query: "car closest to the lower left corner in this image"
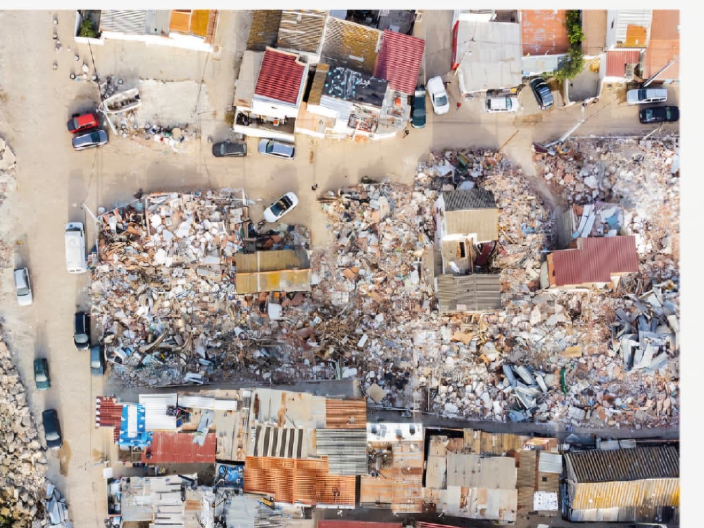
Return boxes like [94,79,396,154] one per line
[42,408,63,448]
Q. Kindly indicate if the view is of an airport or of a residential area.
residential area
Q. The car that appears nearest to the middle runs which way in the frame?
at an angle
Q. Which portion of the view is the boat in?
top left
